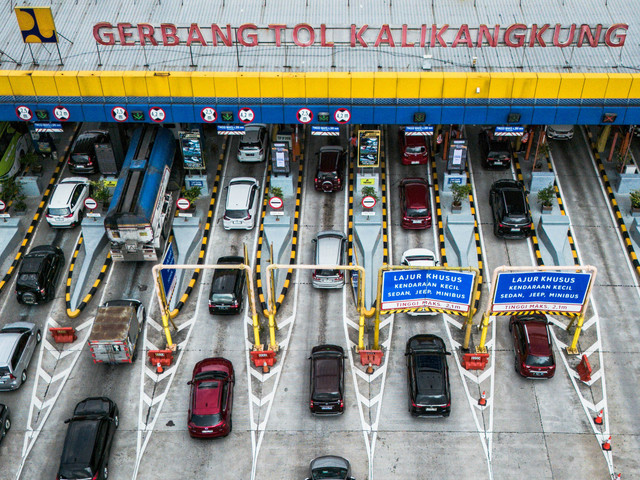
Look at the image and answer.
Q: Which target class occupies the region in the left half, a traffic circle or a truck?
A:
truck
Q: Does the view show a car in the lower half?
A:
Yes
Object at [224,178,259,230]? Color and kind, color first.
white car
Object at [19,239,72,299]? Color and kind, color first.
black car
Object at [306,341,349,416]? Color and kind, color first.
black car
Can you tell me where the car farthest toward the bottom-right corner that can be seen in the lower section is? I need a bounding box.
[509,318,554,380]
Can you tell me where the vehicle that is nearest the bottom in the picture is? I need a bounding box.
[305,455,355,480]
